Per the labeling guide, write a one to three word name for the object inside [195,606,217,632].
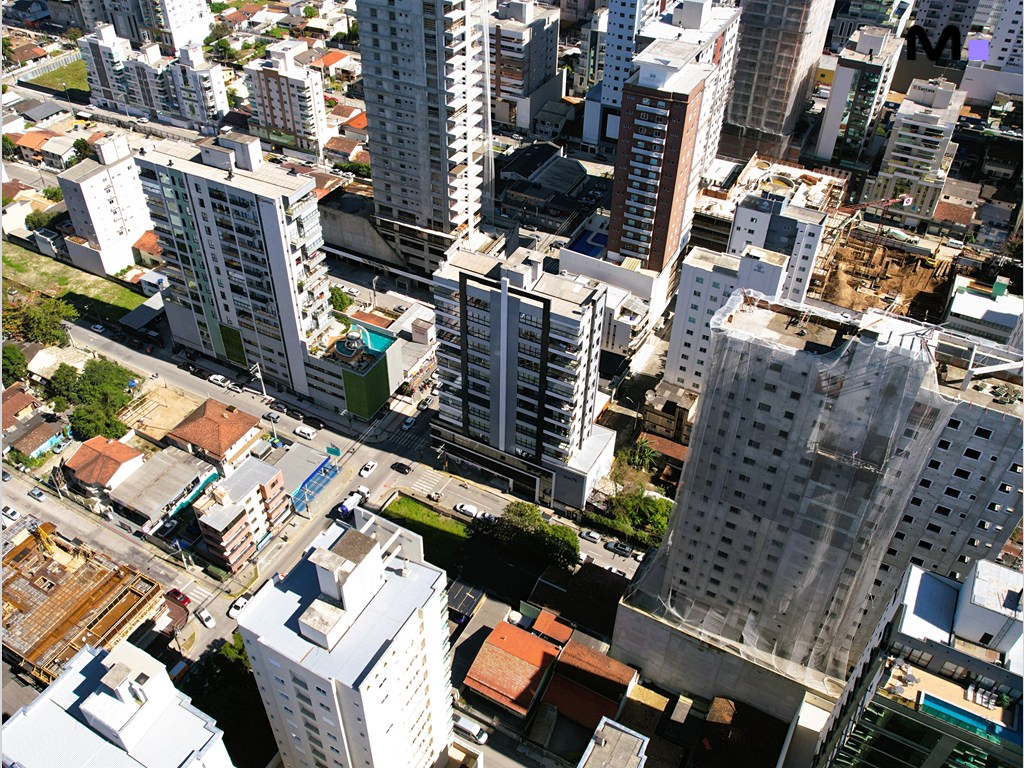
car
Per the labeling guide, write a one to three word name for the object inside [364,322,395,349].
swimming pool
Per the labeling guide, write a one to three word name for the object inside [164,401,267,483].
house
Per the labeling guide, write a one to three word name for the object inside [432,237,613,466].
building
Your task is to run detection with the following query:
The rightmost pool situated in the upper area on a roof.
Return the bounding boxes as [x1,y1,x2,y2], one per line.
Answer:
[569,238,605,261]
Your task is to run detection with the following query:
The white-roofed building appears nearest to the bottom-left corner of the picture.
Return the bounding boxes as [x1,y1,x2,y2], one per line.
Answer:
[0,641,245,768]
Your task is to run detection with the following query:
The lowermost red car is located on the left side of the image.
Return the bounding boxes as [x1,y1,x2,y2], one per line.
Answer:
[170,587,193,609]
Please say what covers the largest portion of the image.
buildings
